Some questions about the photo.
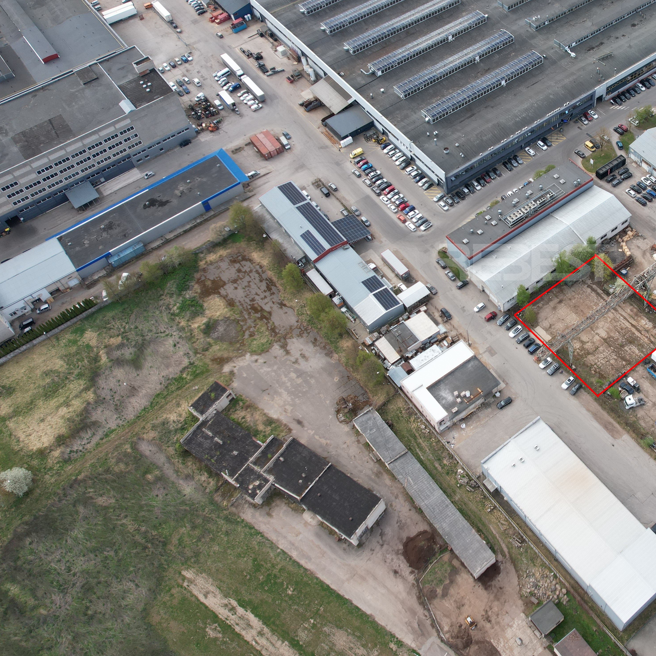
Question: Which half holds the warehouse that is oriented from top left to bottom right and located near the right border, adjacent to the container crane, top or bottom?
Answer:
bottom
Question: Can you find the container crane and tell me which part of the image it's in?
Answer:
right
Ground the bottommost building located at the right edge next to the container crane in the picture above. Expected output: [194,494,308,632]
[480,415,656,633]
